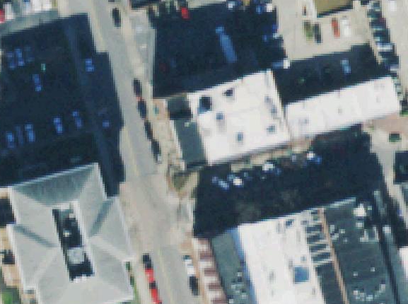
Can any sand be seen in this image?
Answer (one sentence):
No, the scene doesn't show any sand.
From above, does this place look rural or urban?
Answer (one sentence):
The area is urban.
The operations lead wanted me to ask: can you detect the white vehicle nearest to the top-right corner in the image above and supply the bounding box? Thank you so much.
[386,0,399,18]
